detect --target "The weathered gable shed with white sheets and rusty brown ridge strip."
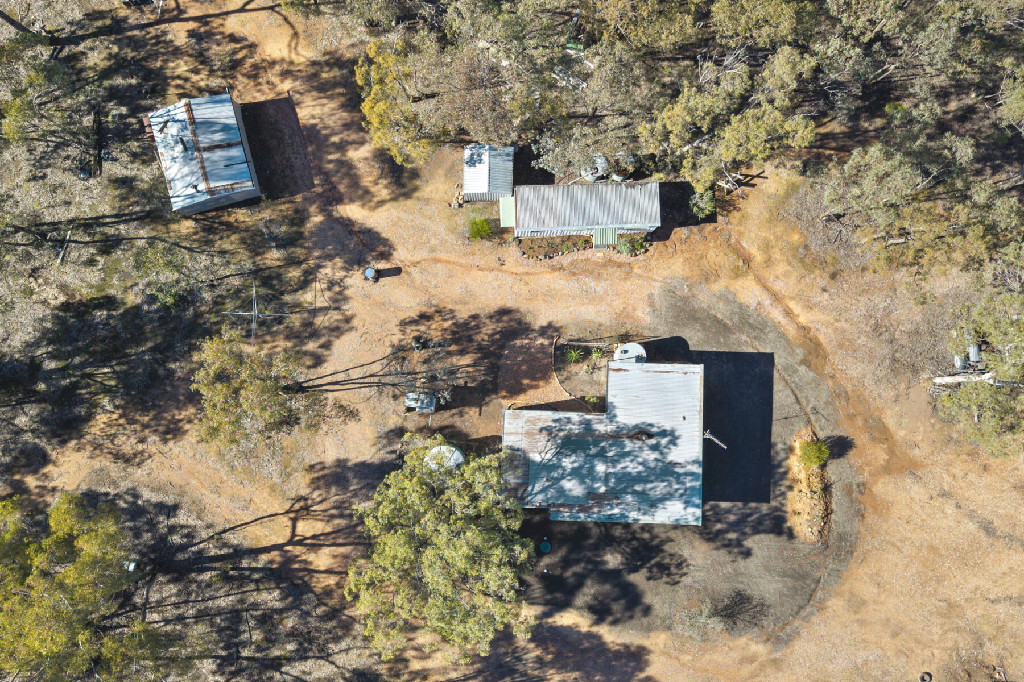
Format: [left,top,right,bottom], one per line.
[149,94,262,215]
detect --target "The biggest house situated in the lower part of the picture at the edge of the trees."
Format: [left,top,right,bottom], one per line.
[500,362,706,526]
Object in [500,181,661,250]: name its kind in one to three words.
building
